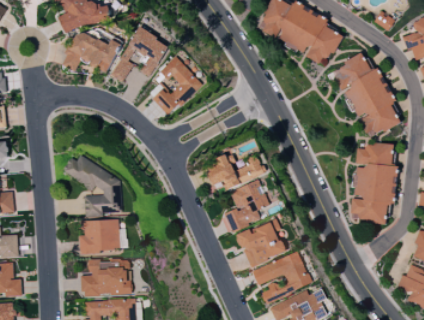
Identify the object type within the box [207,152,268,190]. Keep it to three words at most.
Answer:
house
